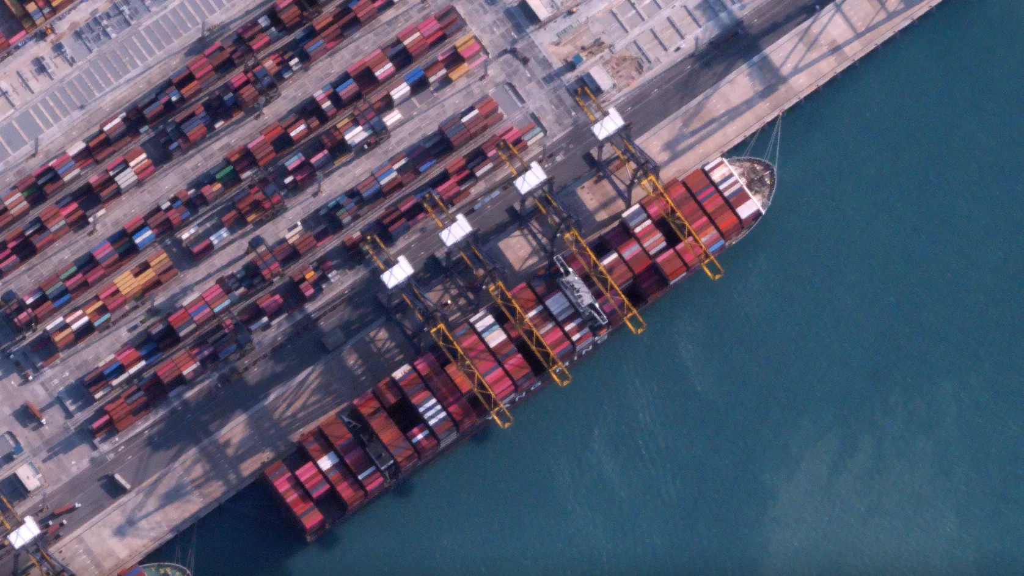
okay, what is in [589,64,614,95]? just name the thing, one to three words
building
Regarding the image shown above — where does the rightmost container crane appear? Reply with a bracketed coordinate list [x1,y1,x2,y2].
[576,85,722,280]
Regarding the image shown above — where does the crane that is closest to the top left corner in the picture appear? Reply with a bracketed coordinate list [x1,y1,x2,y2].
[239,49,279,104]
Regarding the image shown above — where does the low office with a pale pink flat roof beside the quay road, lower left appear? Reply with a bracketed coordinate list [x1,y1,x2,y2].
[15,462,40,496]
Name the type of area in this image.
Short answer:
port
